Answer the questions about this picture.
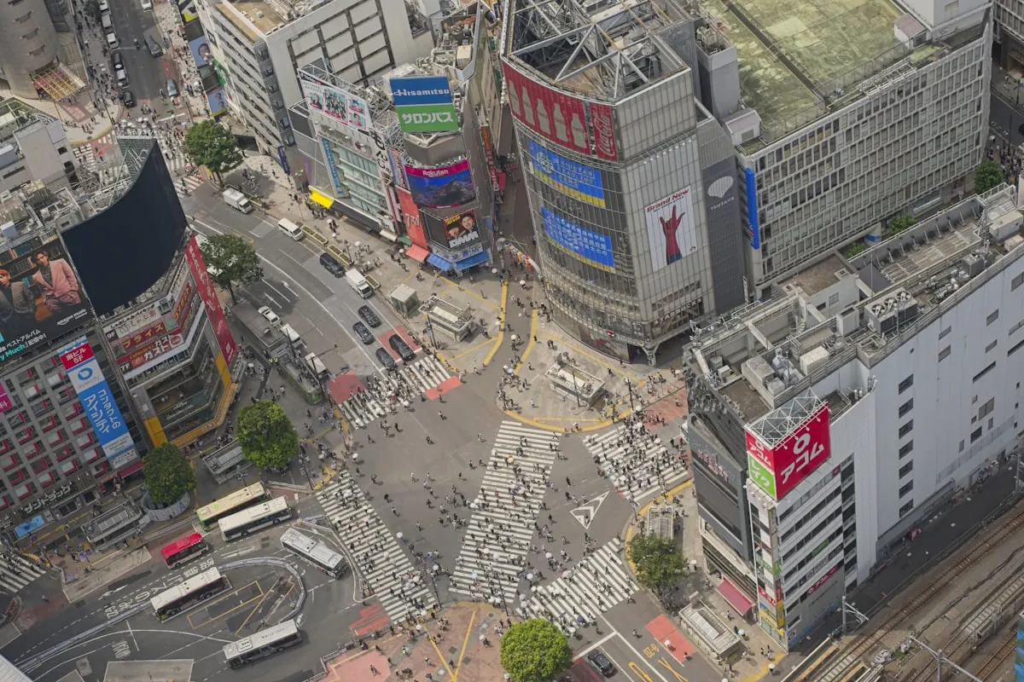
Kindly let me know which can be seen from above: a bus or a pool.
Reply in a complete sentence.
It is a bus that can be seen here.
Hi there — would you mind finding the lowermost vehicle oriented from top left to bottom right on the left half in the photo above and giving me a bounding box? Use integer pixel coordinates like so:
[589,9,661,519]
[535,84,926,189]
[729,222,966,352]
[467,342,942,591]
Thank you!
[284,529,349,583]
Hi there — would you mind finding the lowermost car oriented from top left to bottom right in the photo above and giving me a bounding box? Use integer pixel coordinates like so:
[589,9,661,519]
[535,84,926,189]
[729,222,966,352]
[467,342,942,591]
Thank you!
[586,649,615,679]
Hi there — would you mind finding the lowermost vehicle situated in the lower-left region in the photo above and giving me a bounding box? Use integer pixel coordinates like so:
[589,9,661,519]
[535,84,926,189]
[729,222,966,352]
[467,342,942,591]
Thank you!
[226,623,303,671]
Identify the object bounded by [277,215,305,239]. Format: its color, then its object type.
white vehicle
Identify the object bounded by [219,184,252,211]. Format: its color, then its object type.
white truck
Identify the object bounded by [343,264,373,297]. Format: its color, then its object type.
white truck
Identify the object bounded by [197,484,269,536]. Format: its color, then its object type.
white bus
